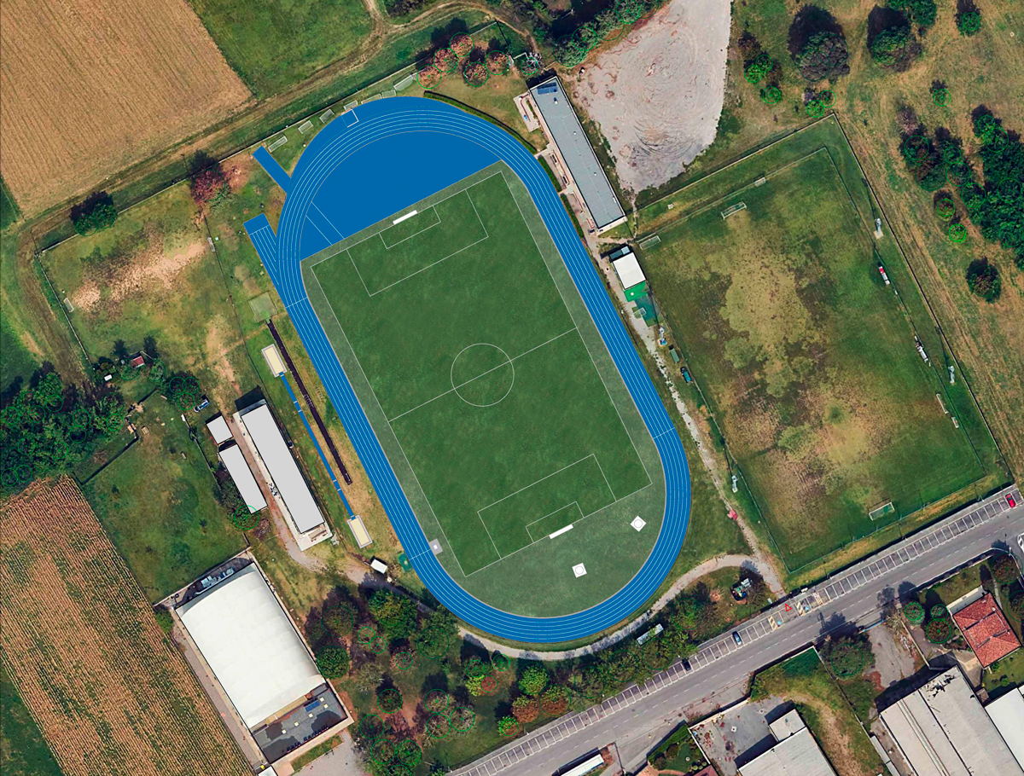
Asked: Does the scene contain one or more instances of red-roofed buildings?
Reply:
Yes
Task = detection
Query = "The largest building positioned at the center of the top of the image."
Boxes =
[529,75,627,232]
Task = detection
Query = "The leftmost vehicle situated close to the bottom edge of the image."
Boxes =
[566,754,605,776]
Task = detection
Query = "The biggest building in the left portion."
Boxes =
[176,562,348,766]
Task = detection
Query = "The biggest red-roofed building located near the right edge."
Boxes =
[947,584,1022,668]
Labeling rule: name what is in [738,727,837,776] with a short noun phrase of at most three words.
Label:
building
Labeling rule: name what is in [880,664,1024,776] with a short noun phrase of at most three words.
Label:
warehouse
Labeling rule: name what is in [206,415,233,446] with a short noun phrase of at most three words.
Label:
building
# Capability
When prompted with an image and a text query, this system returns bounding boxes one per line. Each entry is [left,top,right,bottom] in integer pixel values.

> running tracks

[244,96,690,643]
